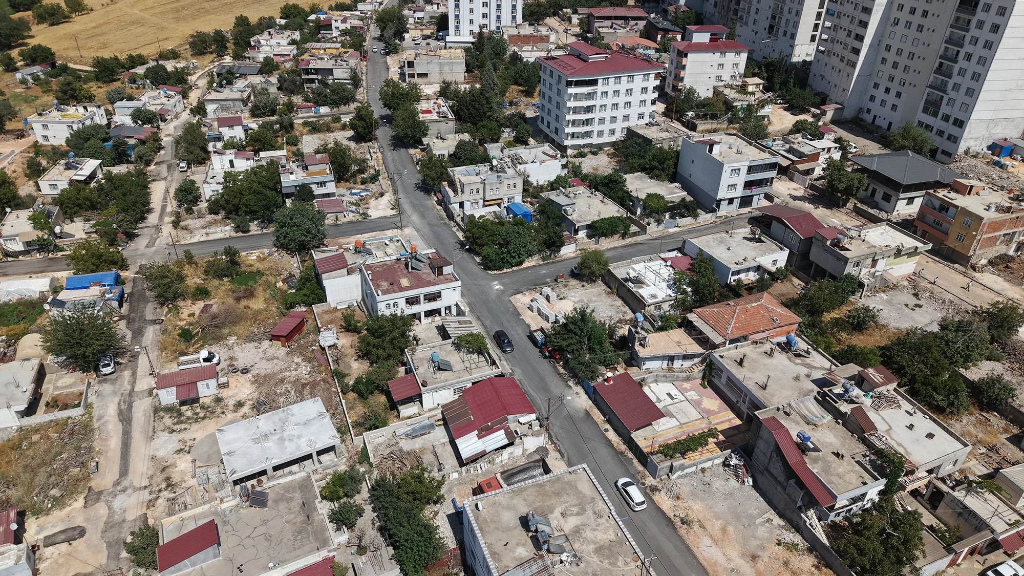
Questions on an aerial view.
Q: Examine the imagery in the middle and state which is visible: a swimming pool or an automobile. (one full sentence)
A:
Looking in the middle, you will find an automobile.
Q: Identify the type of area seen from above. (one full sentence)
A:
The area seen from above is a residential area.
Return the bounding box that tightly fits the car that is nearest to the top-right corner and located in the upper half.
[843,137,859,152]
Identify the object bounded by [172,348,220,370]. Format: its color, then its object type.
white truck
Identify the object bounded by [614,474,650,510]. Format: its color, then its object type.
white car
